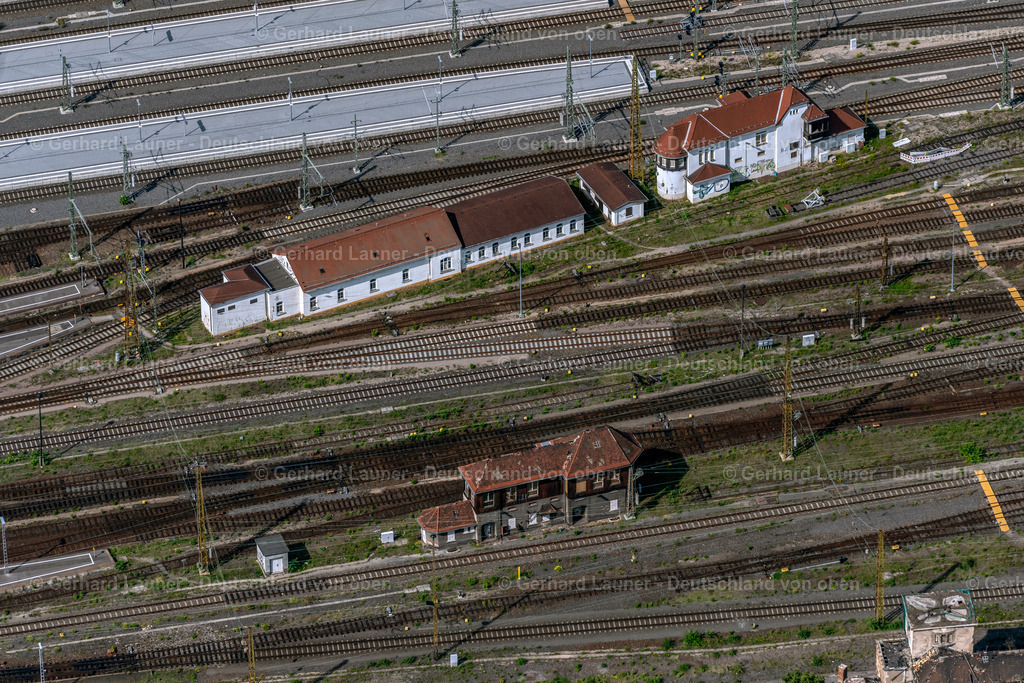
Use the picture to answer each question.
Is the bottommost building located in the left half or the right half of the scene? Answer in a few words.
right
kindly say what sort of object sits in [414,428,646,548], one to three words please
building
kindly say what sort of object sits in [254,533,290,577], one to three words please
shed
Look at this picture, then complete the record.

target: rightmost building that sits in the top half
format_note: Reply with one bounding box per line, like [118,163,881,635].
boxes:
[651,83,871,204]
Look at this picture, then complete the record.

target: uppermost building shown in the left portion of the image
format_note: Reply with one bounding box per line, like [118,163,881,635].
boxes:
[194,177,589,336]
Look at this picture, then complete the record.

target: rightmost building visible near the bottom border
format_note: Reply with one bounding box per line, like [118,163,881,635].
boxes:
[874,589,1024,683]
